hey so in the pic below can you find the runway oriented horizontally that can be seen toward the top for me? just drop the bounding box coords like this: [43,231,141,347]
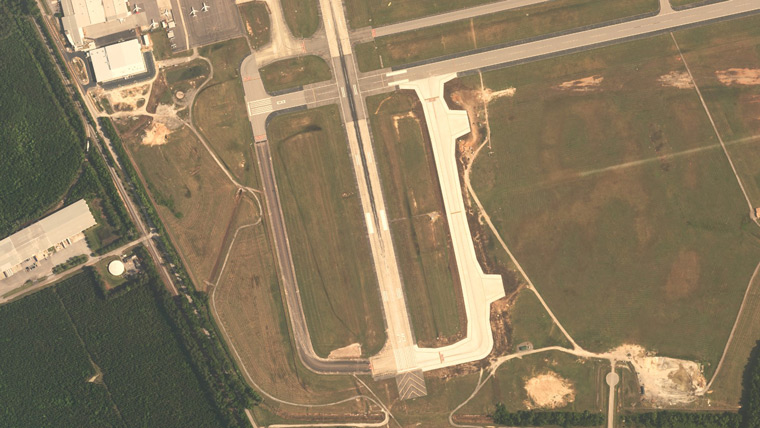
[248,0,760,127]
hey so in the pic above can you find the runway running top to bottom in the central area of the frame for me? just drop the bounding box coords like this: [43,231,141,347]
[317,0,421,386]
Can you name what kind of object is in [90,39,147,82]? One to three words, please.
hangar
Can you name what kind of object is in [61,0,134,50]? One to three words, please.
building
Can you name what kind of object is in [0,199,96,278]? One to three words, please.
building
